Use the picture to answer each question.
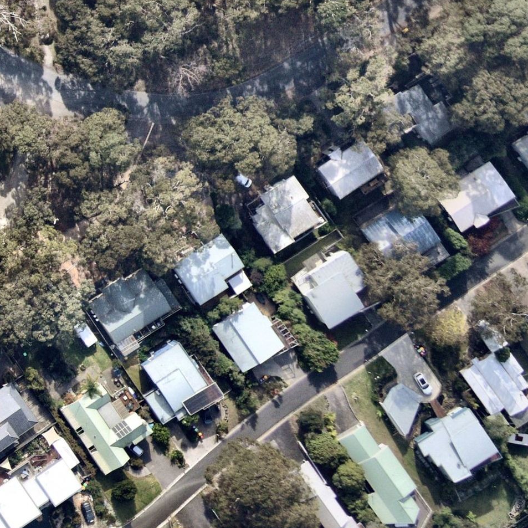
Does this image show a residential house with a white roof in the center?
Yes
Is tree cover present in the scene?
Yes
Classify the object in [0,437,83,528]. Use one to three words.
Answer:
house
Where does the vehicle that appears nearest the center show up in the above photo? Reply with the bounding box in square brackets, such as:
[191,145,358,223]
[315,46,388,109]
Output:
[254,286,267,306]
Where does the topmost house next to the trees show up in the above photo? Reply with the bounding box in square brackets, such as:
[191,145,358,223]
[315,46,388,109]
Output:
[395,77,452,141]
